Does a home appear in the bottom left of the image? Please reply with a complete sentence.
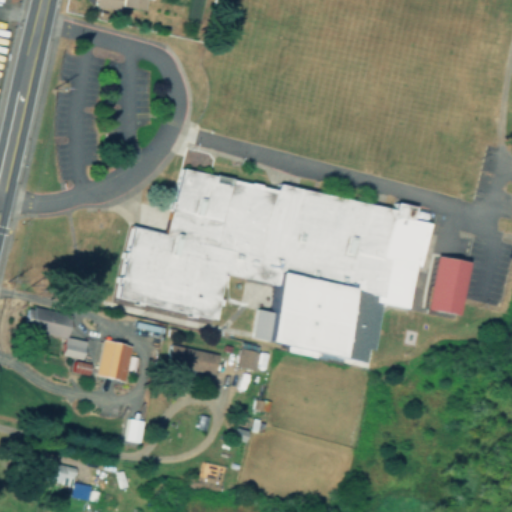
Yes, a home is visible in the bottom left of the image.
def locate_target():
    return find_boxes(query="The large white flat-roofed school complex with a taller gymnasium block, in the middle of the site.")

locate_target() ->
[112,168,435,368]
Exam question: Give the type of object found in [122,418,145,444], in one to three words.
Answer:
house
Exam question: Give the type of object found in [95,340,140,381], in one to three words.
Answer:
house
